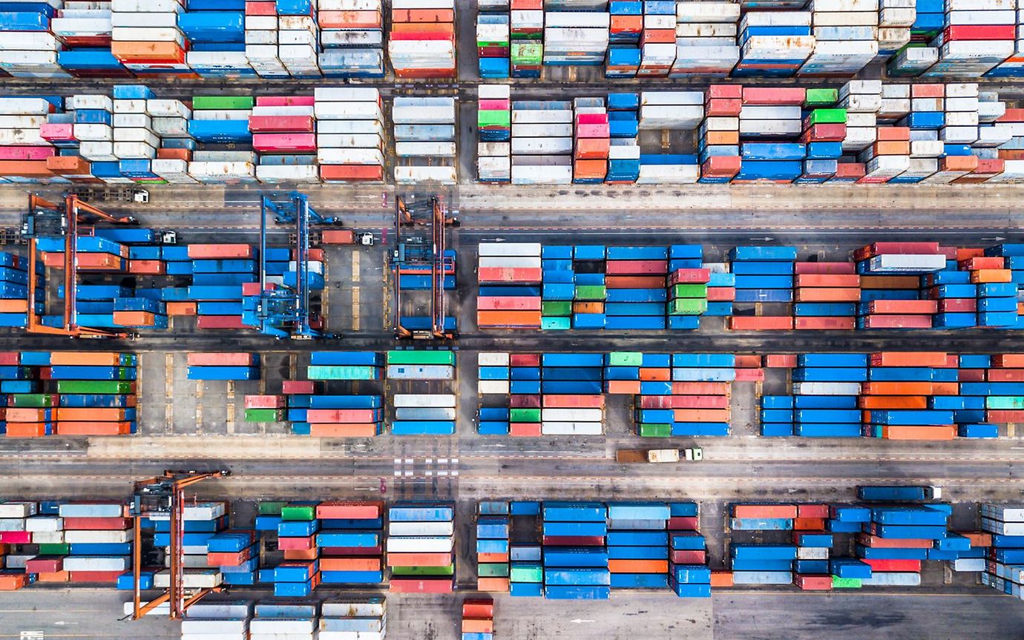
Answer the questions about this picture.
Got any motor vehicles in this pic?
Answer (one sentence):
Yes, the photo shows a motor vehicle.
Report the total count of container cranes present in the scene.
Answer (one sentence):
In total, there are 4 container cranes in the scene.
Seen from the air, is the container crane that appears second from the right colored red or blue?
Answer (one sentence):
From above, the container crane that appears second from the right appears blue.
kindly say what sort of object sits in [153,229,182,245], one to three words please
vehicle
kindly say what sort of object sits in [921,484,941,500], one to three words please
vehicle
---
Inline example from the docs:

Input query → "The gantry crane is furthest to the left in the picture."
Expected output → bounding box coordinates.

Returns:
[17,187,142,343]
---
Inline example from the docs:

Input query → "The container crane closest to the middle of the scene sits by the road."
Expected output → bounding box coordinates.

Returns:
[384,187,457,343]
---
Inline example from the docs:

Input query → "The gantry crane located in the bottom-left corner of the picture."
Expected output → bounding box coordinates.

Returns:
[122,469,234,627]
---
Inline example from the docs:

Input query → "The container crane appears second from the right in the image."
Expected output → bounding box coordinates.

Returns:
[250,187,342,343]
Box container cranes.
[384,187,457,343]
[17,187,142,343]
[122,469,234,627]
[250,187,342,343]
